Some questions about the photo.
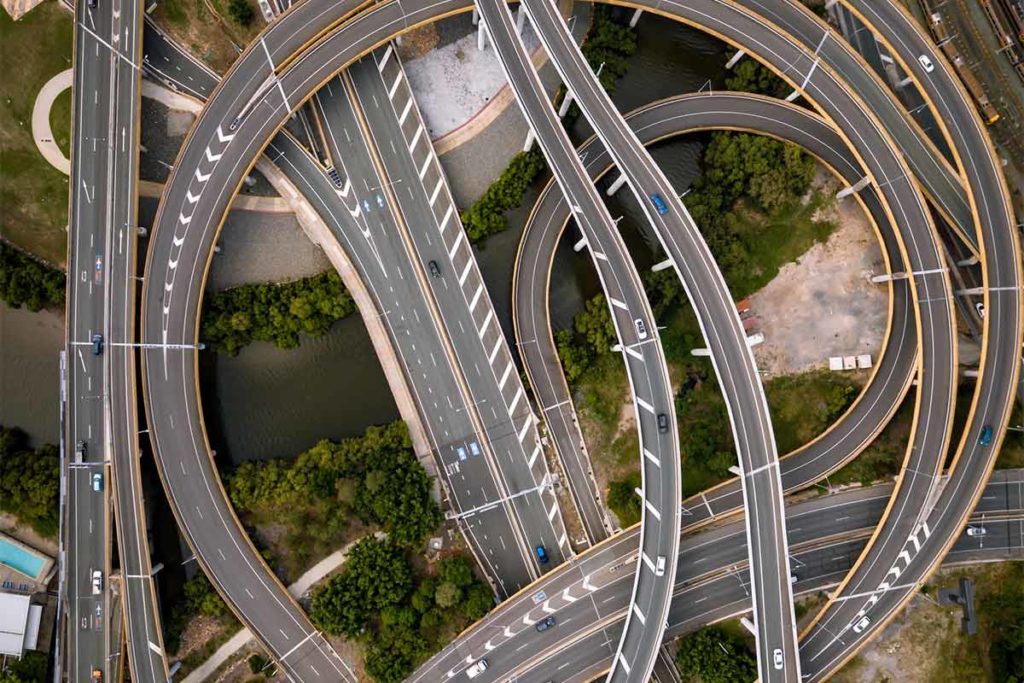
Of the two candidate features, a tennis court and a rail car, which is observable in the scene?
rail car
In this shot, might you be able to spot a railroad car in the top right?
Yes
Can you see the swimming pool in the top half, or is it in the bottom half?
bottom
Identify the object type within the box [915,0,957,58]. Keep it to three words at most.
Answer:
rail car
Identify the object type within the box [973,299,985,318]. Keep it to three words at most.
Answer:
vehicle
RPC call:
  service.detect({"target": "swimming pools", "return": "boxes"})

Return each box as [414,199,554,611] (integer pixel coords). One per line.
[0,535,50,584]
